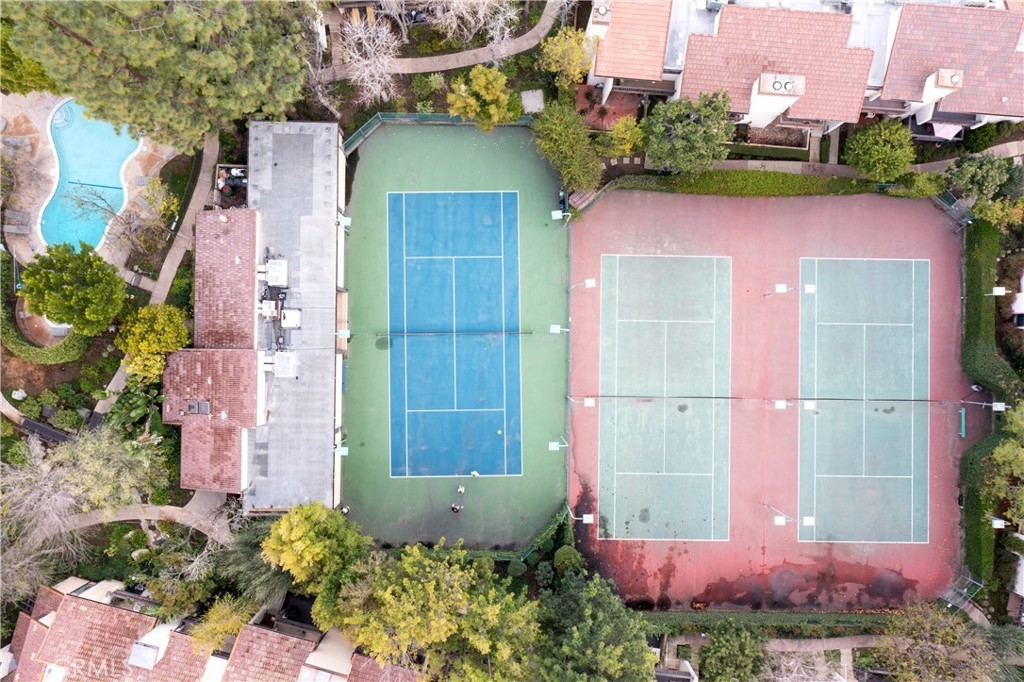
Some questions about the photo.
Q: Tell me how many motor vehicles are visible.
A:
none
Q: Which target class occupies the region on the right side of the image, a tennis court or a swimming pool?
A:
tennis court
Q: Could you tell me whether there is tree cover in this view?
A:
Yes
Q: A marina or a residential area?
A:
residential area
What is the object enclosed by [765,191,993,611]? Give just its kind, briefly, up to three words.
tennis court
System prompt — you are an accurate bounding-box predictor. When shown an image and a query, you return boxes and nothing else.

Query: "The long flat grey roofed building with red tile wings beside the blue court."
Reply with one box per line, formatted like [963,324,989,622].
[161,121,349,513]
